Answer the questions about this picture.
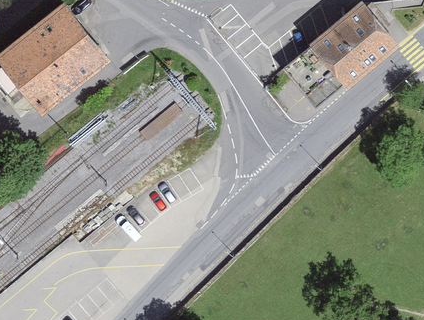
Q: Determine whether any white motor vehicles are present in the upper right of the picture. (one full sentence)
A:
No, no white motor vehicle appears in the upper right of the picture.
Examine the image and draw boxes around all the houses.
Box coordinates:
[310,0,402,89]
[0,2,111,116]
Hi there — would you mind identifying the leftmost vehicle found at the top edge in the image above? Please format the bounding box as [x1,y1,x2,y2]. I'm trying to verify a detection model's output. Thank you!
[70,0,94,14]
